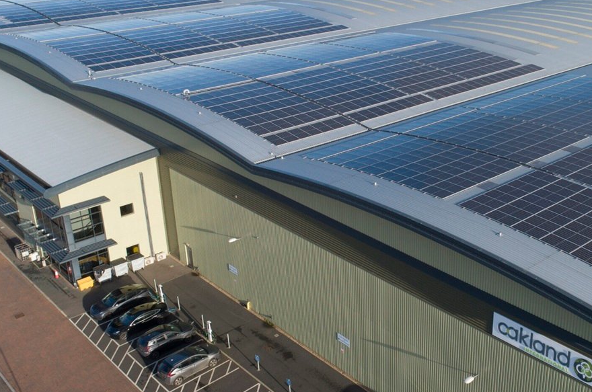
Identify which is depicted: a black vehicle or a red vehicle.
black vehicle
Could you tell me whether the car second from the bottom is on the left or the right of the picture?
left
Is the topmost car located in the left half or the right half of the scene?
left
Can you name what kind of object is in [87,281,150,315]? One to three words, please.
car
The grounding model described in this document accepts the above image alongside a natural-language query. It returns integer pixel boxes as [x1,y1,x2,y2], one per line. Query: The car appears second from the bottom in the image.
[136,318,202,357]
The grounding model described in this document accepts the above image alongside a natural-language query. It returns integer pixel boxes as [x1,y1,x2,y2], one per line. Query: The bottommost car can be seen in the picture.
[162,345,225,383]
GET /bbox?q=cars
[87,281,150,315]
[162,345,225,383]
[136,318,202,357]
[106,297,172,335]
